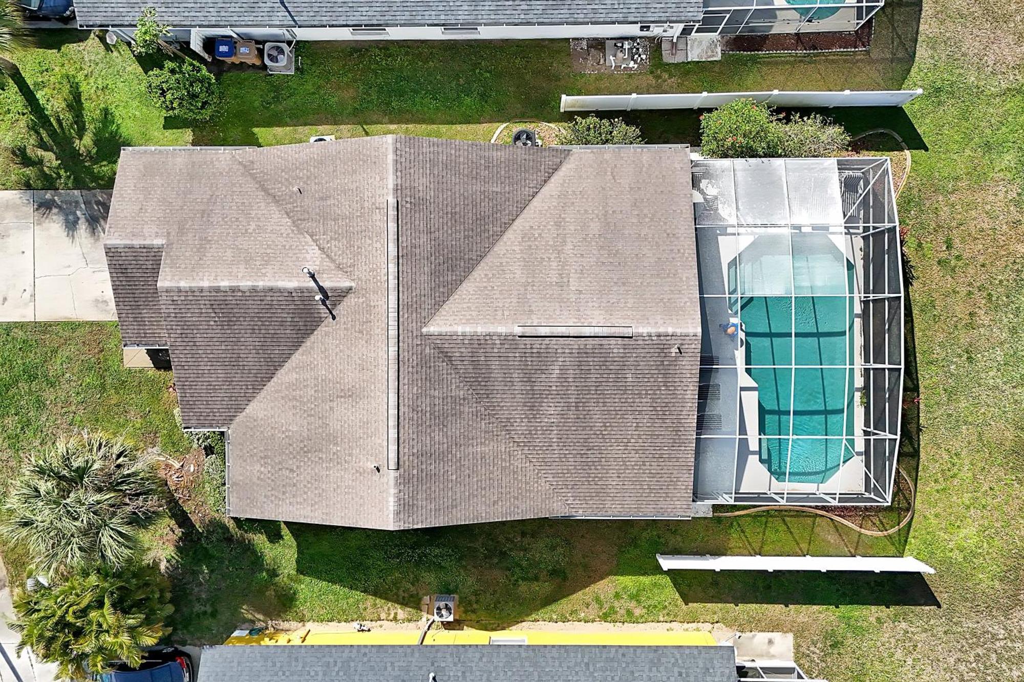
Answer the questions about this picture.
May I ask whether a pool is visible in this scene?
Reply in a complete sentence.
Yes, I can see a pool in this picture.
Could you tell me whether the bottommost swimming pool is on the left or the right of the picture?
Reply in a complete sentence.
It is on the right.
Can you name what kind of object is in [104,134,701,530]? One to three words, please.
house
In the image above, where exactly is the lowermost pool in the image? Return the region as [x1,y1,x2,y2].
[726,232,858,487]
